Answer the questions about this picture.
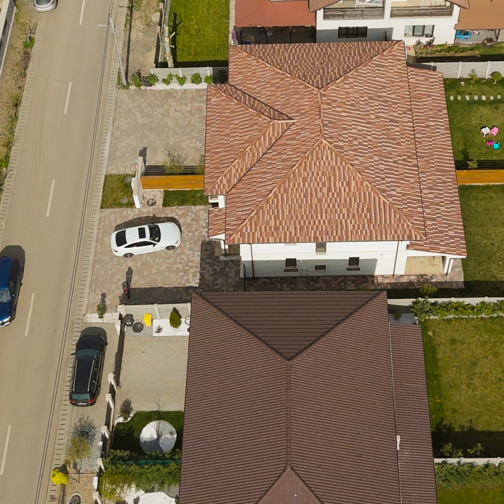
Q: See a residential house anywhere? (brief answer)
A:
Yes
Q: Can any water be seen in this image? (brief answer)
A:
No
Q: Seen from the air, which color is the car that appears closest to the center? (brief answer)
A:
white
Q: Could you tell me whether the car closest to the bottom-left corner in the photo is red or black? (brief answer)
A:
black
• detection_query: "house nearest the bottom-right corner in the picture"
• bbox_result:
[174,287,438,504]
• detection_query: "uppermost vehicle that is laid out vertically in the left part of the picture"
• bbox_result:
[0,254,30,324]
